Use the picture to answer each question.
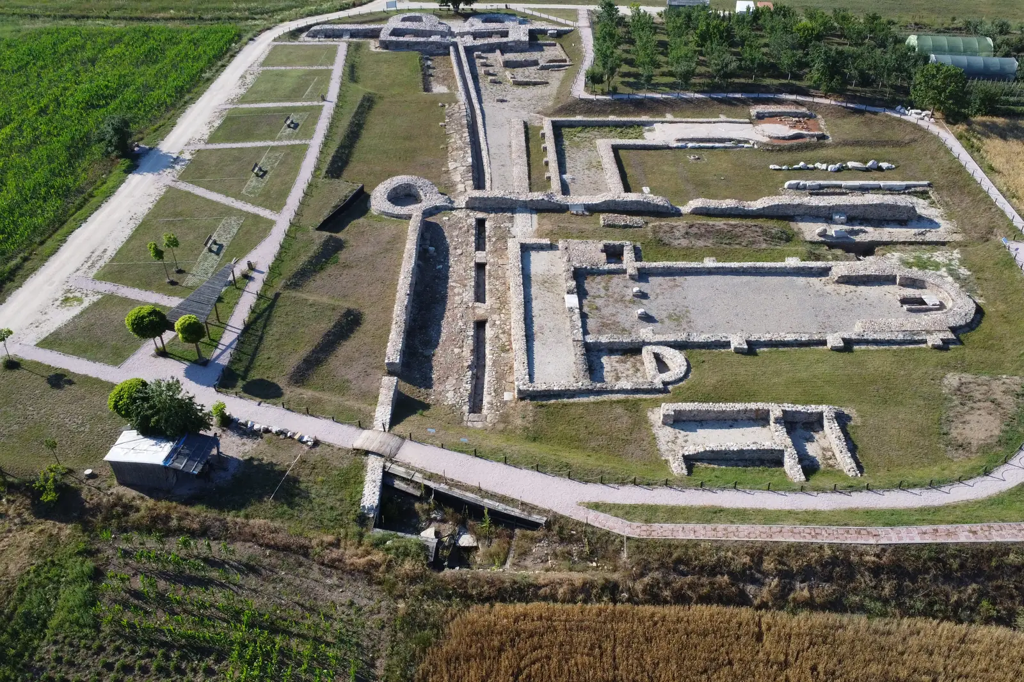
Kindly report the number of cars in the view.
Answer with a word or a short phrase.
zero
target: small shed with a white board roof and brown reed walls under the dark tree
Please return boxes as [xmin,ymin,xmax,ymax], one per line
[103,431,227,497]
